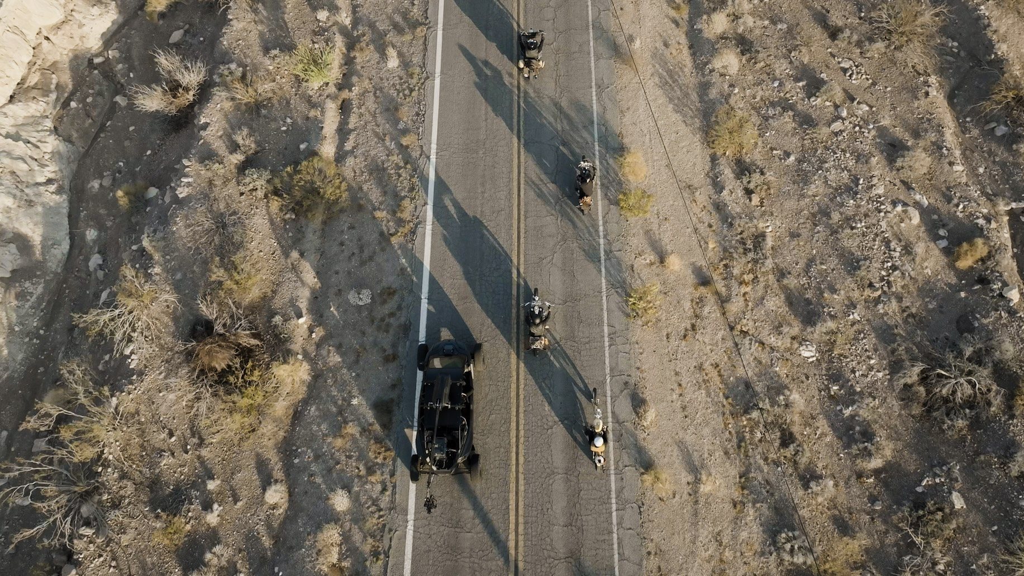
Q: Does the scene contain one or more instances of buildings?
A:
No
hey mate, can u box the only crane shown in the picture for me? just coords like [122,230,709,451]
[419,375,451,509]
